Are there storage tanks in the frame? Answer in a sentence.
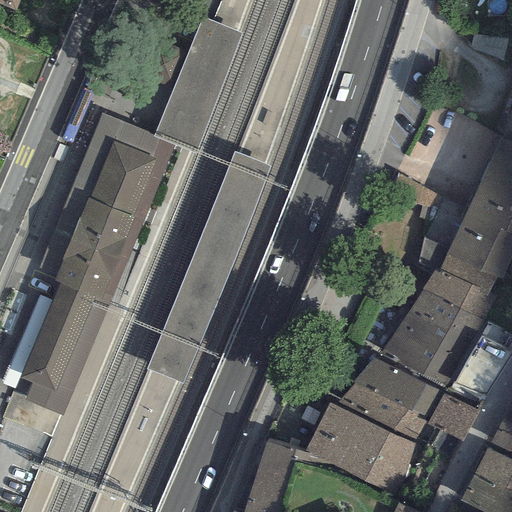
No, there isn't any storage tank down there.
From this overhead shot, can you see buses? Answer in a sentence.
Yes, you can see a bus in this photo.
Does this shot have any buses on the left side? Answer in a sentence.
Yes, I can see a bus on the left side.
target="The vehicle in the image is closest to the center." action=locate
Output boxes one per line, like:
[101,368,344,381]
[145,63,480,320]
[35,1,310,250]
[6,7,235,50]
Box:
[270,252,284,275]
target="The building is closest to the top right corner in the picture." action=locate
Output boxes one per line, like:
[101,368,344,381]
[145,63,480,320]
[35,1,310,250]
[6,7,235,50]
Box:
[472,34,508,60]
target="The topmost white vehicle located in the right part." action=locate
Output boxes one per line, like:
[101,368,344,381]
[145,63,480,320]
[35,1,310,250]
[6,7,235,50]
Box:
[334,72,354,102]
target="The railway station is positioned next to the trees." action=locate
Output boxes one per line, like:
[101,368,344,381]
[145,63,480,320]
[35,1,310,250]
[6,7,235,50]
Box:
[22,112,174,414]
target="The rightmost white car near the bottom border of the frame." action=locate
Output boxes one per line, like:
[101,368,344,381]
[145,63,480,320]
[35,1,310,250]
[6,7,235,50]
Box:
[200,466,216,490]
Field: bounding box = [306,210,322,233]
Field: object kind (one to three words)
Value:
car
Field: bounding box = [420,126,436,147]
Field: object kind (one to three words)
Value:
car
